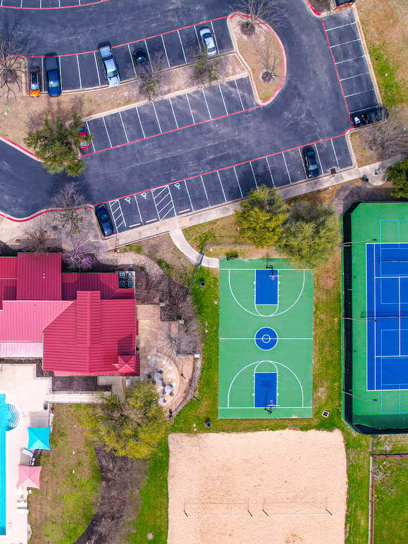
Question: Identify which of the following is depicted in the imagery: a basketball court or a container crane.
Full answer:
Visible in the photo is a basketball court.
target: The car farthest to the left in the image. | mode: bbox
[28,69,42,94]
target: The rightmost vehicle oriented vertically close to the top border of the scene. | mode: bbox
[199,27,216,58]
